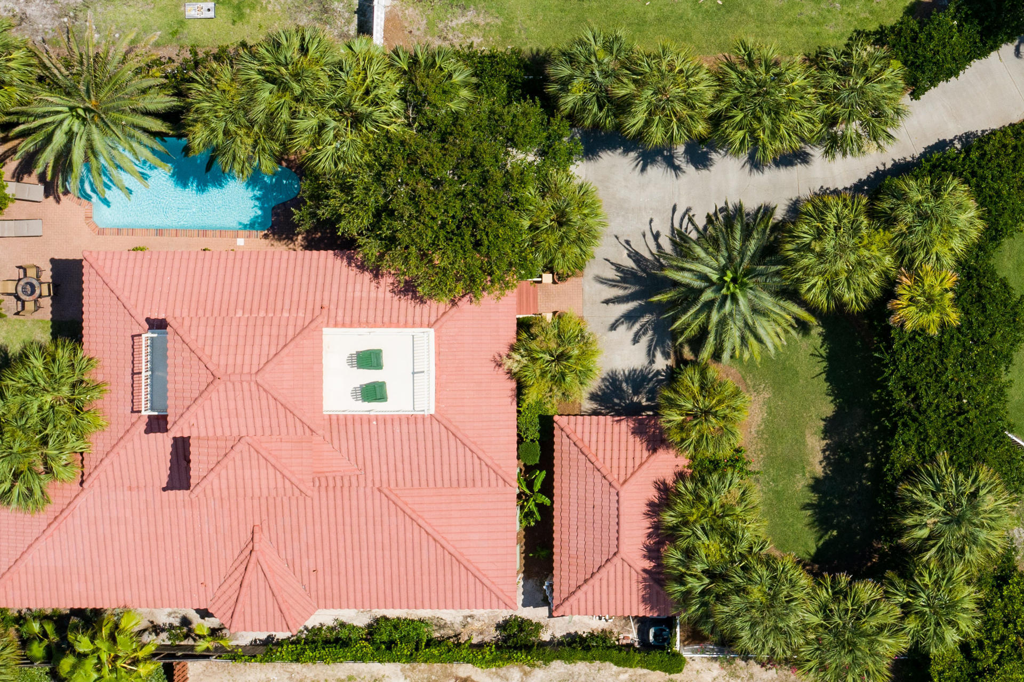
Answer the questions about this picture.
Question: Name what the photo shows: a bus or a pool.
pool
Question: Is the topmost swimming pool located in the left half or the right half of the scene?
left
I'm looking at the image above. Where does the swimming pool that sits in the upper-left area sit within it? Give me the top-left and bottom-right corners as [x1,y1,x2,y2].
[59,129,307,238]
